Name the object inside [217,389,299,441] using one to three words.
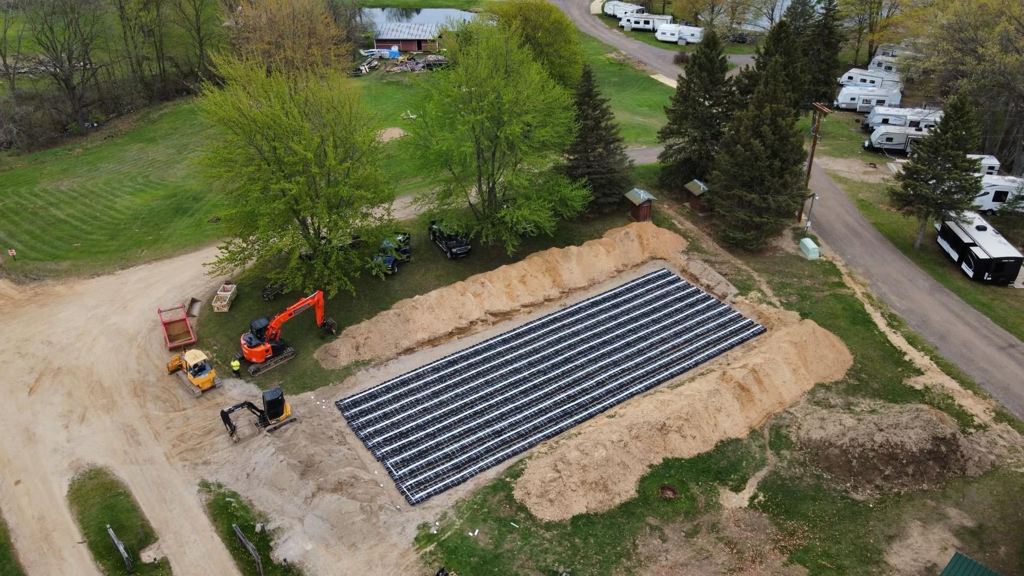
work vehicle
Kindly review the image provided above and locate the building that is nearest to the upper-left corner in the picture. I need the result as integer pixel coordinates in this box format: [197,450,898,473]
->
[372,21,444,53]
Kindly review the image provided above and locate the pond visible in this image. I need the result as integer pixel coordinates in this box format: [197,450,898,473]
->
[361,9,495,48]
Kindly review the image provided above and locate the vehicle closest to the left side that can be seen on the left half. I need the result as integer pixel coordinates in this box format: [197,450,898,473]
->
[163,341,220,395]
